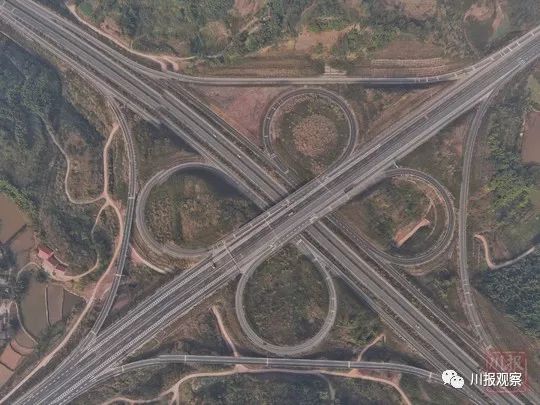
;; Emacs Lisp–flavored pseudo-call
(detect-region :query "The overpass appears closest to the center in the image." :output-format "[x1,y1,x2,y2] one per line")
[219,176,339,272]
